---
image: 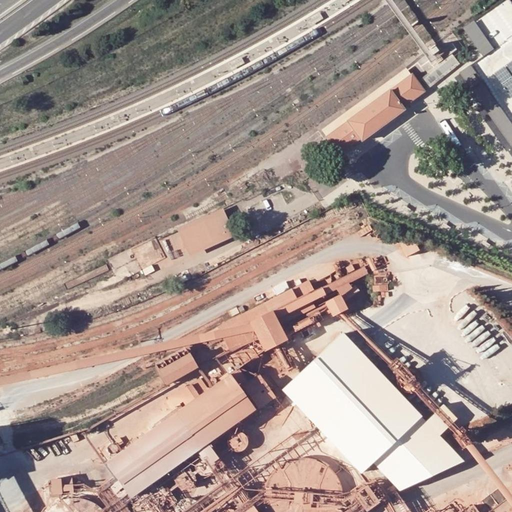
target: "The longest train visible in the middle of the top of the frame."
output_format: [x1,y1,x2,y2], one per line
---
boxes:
[160,28,323,116]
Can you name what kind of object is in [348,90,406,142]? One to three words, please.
train station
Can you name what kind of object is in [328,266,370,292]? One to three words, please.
house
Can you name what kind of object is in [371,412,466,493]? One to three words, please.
building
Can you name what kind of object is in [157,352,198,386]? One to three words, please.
shed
